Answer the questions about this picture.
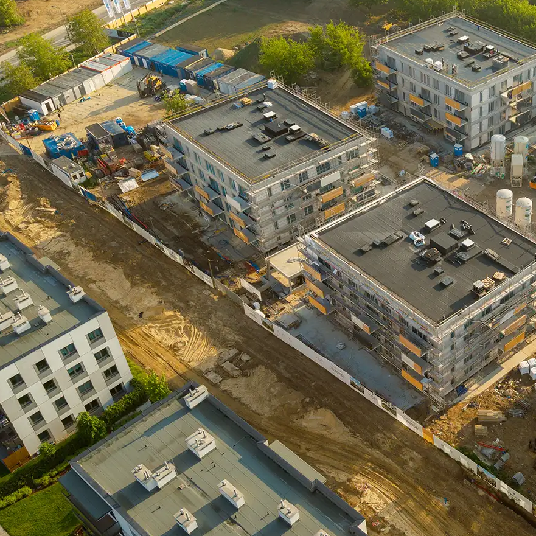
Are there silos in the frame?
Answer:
Yes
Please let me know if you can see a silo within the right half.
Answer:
Yes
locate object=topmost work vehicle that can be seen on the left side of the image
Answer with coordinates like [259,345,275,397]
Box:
[132,76,162,97]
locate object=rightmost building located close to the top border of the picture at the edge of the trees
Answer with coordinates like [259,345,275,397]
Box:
[375,15,536,152]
